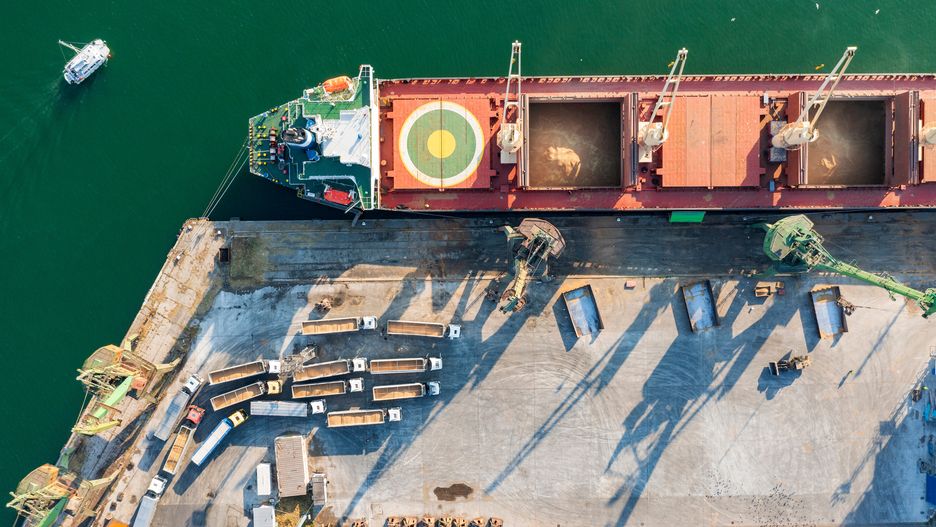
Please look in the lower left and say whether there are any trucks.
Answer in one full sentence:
Yes, a truck appears in the lower left.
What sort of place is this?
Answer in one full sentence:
This looks like a port.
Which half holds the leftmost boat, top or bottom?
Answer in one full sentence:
It is in the top half that the leftmost boat appears.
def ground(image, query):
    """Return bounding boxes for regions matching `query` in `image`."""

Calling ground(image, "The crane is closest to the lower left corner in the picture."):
[3,448,122,527]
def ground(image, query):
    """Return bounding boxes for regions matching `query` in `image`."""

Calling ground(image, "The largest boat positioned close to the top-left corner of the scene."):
[59,37,113,89]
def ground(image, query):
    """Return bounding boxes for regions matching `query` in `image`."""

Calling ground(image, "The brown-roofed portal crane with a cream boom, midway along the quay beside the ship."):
[498,217,569,317]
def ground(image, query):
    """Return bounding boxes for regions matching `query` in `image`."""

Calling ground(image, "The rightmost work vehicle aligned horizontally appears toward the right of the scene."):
[771,353,814,376]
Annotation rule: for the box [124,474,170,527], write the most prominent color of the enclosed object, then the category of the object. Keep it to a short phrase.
white truck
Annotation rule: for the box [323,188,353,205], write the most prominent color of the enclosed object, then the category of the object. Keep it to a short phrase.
red boat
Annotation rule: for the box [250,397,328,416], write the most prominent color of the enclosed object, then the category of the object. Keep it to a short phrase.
white vehicle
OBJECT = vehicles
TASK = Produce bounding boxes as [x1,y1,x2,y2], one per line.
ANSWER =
[301,314,378,333]
[327,404,403,426]
[292,375,365,399]
[190,407,250,466]
[292,355,368,382]
[370,354,442,374]
[771,353,814,376]
[124,474,170,527]
[387,319,461,339]
[152,374,207,441]
[372,379,441,401]
[207,357,285,385]
[250,397,328,416]
[162,404,208,475]
[209,377,284,411]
